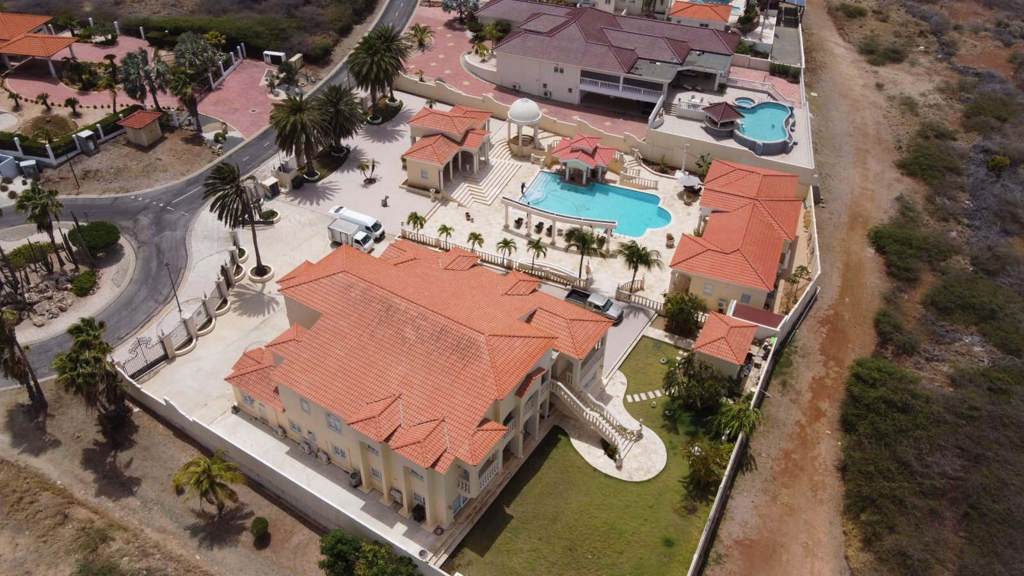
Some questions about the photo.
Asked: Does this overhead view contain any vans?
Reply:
Yes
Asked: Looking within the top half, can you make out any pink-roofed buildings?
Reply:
Yes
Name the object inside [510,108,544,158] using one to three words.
gazebo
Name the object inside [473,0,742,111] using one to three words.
house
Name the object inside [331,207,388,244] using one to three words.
van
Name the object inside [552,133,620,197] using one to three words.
building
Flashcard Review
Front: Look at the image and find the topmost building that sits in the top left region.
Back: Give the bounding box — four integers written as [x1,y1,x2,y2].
[0,10,53,41]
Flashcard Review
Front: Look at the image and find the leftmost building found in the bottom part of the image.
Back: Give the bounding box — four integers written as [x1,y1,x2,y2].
[225,244,615,535]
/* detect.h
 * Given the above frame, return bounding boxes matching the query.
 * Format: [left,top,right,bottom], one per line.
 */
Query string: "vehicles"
[331,207,388,244]
[326,218,375,255]
[563,292,625,326]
